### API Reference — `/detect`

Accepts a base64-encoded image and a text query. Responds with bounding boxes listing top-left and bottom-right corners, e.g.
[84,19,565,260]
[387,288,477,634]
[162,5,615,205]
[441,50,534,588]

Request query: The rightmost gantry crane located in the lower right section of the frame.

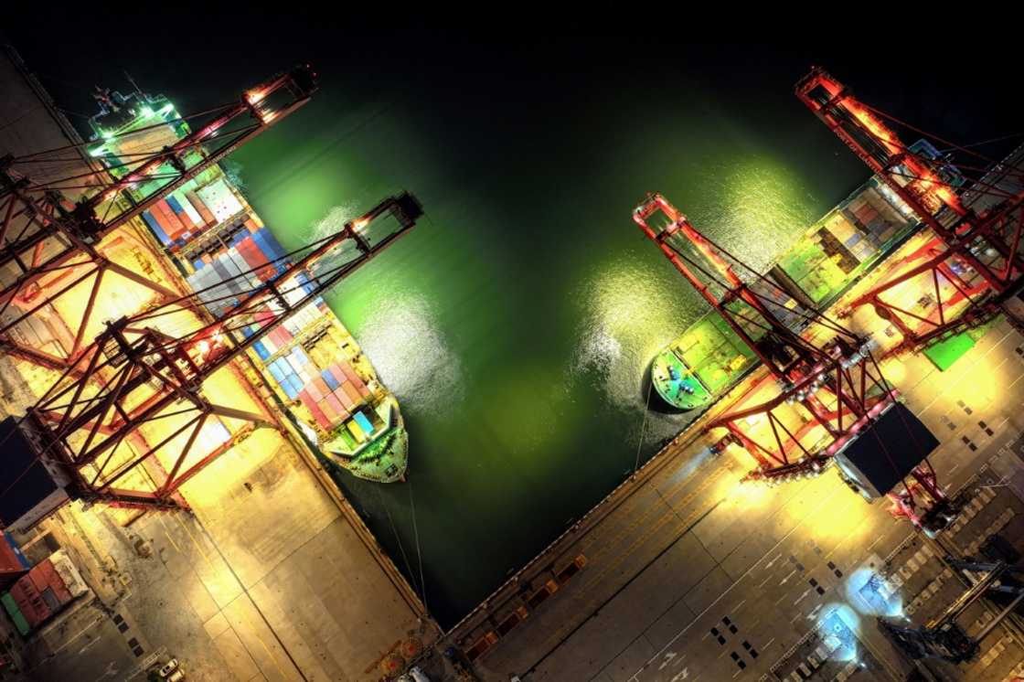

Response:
[875,534,1024,676]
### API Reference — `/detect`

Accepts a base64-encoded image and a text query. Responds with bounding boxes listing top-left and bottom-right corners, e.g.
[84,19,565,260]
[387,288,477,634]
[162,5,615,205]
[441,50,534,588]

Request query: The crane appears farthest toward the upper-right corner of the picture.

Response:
[785,64,1024,368]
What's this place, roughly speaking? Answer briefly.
port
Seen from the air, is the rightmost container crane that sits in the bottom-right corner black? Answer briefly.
Yes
